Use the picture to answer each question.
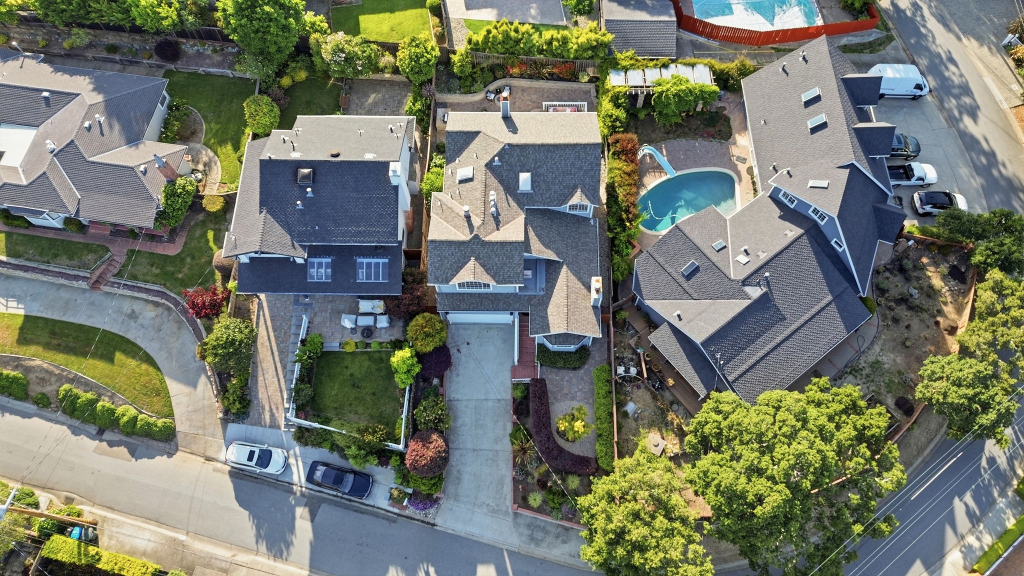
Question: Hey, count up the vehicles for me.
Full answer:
In total, 6 vehicles can be seen.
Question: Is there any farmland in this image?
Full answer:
No, there is no farmland in the image.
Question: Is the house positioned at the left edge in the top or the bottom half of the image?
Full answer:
The house positioned at the left edge sits in the top half of the picture.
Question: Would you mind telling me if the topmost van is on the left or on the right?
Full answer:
The topmost van sits on the right side.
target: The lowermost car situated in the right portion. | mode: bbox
[911,193,969,218]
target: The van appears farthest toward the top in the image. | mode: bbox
[875,69,934,104]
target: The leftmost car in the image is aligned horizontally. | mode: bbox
[223,440,291,479]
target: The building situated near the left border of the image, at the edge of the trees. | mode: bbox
[0,45,192,237]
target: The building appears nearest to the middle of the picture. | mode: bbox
[427,87,603,355]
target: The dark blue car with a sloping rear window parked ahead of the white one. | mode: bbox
[306,461,375,503]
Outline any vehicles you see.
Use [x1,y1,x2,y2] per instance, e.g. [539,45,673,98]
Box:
[223,440,291,479]
[306,461,375,503]
[875,69,934,104]
[911,193,969,218]
[886,165,944,192]
[884,137,928,164]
